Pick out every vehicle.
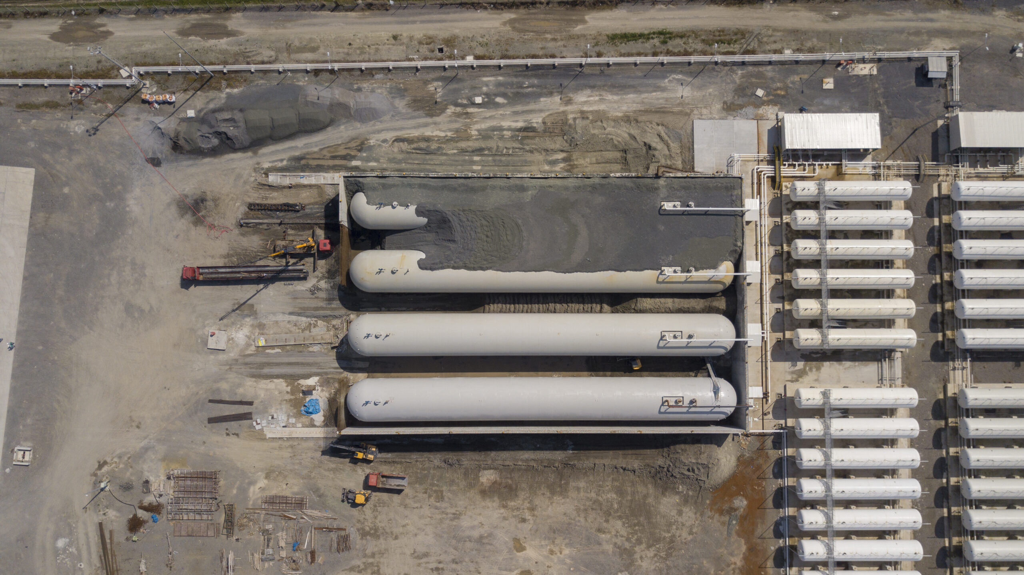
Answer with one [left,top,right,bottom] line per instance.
[367,471,409,491]
[236,227,333,271]
[180,265,305,282]
[339,489,374,504]
[616,357,645,371]
[325,440,383,462]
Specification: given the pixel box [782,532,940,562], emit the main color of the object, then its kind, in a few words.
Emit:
white storage tank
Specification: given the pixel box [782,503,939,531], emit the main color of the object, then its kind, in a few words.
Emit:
white storage tank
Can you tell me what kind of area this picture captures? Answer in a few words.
industrial area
